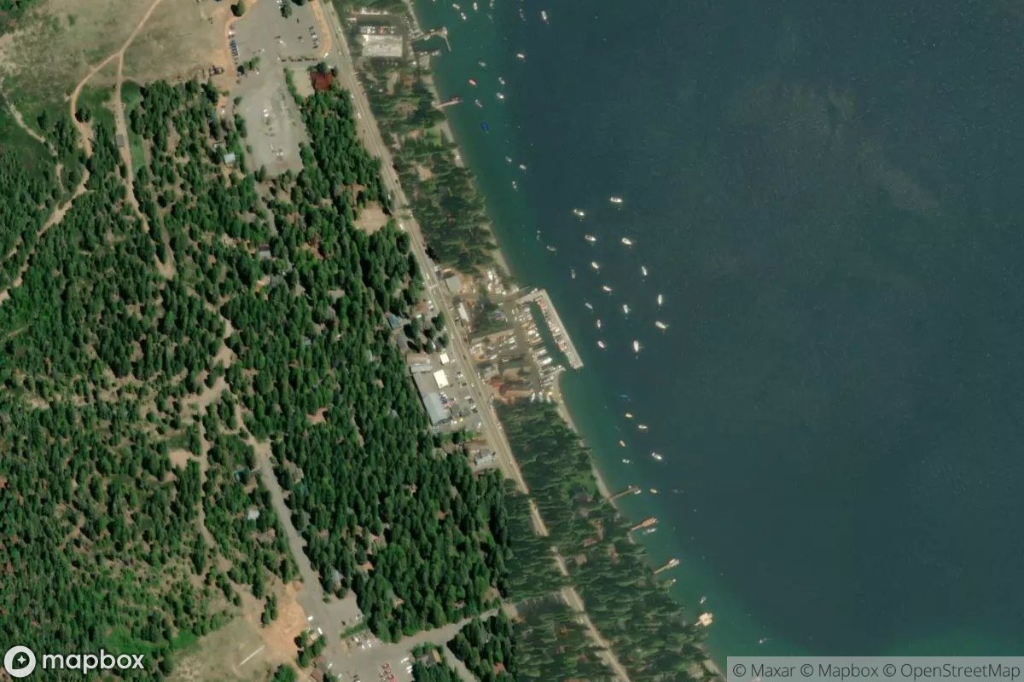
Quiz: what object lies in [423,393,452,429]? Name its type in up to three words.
building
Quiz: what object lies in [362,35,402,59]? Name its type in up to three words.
building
